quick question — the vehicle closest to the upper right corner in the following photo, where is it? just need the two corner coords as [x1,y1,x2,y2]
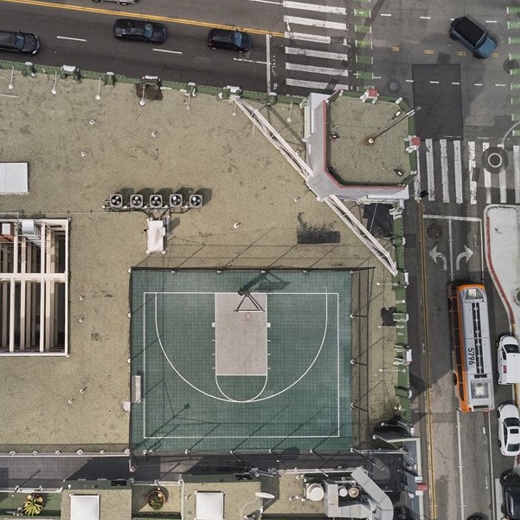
[450,16,494,58]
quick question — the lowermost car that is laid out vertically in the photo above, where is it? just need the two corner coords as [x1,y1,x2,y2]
[497,469,520,520]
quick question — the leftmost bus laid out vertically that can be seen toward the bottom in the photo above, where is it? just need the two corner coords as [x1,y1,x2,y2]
[447,280,495,412]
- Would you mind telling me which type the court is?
basketball court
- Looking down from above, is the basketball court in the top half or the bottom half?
bottom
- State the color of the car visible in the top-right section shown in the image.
black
